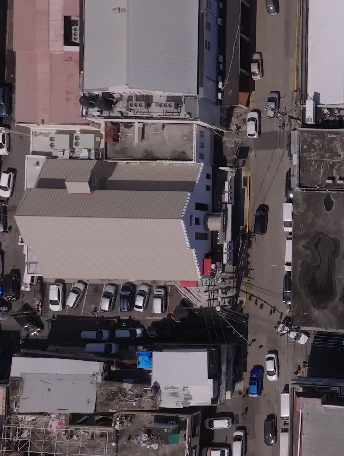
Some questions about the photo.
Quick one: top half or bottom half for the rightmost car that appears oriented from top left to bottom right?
bottom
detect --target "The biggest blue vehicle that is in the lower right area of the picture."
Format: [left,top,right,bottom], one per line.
[249,365,264,400]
